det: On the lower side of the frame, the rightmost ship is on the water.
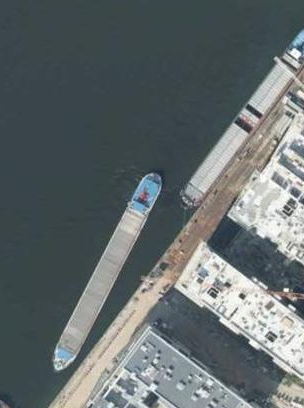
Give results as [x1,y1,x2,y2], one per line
[56,171,159,371]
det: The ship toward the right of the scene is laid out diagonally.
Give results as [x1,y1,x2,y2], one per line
[188,29,304,205]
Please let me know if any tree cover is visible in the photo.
No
